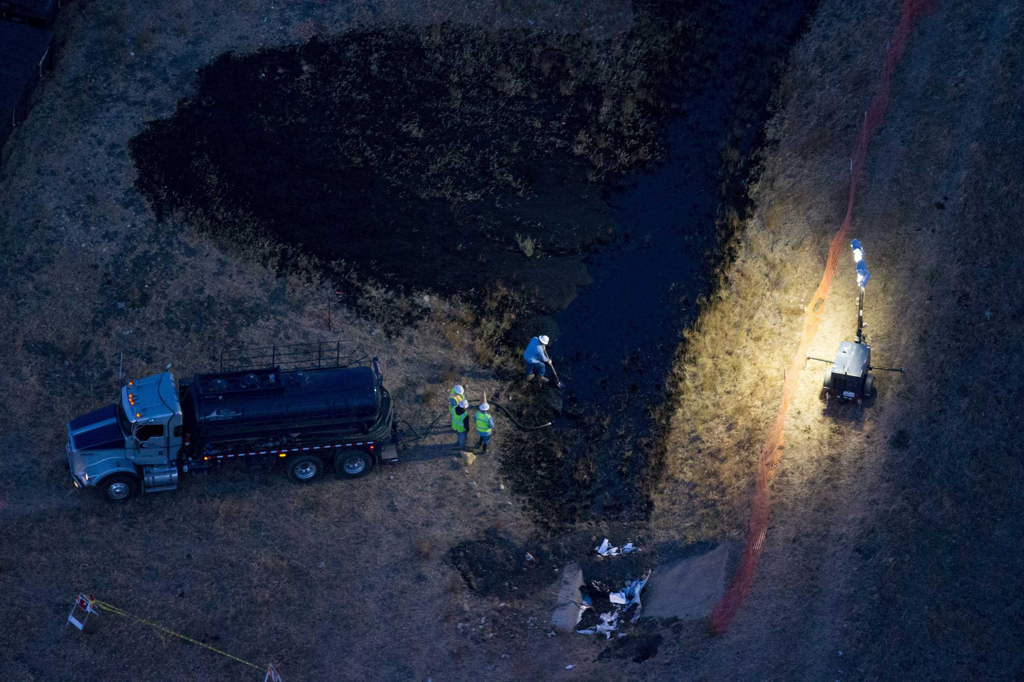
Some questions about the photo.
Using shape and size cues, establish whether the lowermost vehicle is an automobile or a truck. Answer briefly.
truck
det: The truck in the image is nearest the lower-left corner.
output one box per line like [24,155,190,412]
[61,340,397,504]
